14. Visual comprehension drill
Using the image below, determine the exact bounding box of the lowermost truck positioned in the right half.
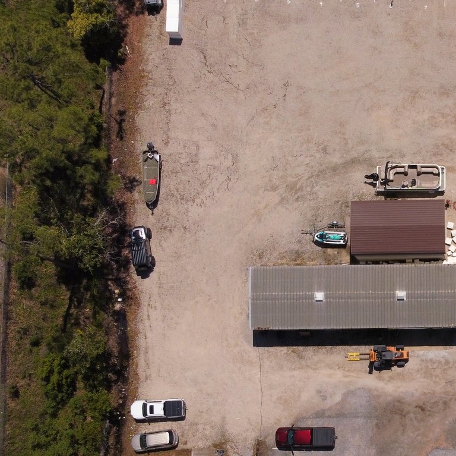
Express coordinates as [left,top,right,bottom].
[276,426,339,450]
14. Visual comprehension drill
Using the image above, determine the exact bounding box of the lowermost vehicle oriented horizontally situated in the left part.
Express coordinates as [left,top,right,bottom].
[131,430,180,454]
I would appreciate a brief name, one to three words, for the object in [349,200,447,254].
shed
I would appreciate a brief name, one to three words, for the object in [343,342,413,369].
work vehicle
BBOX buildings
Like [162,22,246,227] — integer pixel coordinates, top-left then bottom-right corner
[247,265,456,332]
[349,200,447,254]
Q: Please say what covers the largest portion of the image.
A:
paved ground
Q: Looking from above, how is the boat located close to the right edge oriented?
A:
from left to right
